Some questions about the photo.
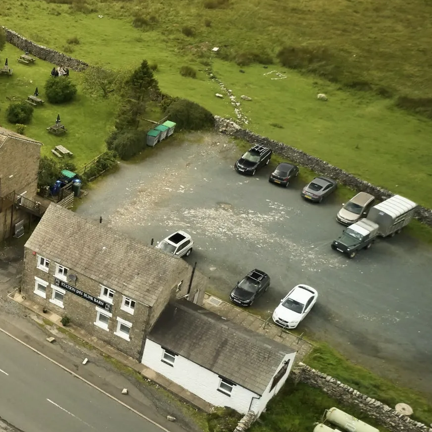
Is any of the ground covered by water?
No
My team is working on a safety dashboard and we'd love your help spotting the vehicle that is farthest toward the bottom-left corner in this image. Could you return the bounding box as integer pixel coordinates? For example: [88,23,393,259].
[157,226,200,257]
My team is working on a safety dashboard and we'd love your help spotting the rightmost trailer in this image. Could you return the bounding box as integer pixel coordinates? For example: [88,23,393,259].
[367,194,417,240]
